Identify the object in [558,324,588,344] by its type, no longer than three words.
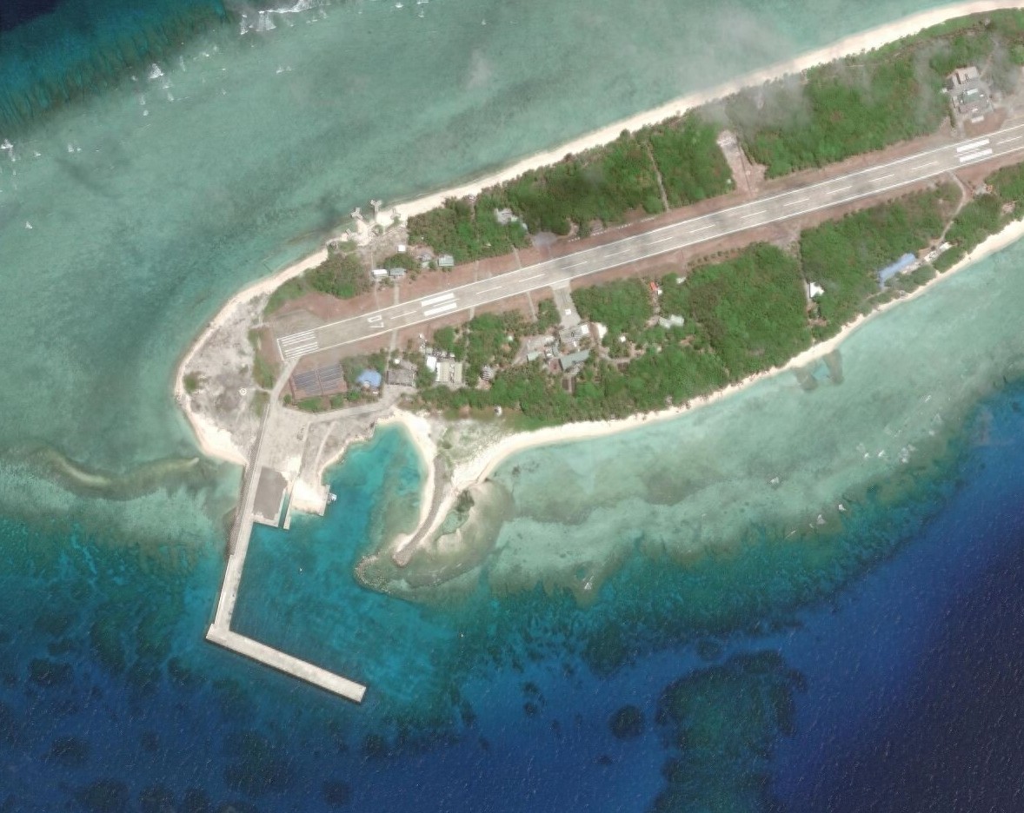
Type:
building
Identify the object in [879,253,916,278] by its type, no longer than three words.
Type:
building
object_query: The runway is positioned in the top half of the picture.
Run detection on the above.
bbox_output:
[276,123,1024,361]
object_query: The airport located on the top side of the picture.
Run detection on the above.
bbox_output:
[265,123,1024,361]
